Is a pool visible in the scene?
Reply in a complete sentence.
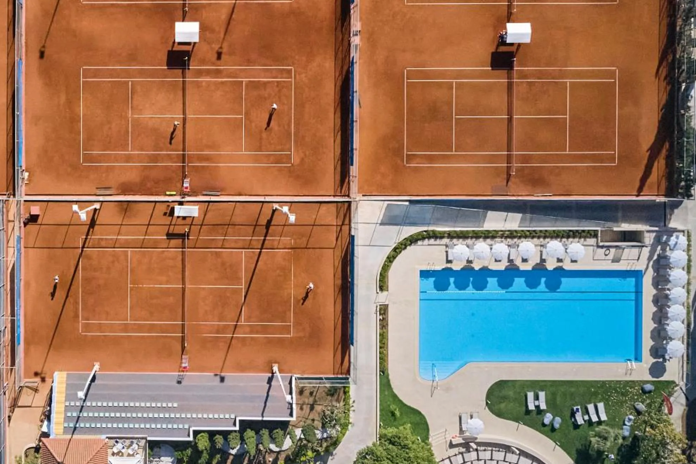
Yes, you can see a pool in this photo.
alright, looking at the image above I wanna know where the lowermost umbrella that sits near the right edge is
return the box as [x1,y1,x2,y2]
[660,342,683,359]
